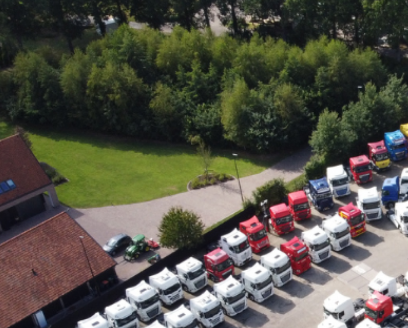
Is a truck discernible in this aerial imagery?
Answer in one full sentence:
Yes, the frame does contain a truck.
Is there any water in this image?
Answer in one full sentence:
No, no water is visible.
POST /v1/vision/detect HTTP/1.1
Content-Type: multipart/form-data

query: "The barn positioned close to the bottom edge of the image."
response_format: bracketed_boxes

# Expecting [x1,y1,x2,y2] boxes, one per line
[0,209,124,328]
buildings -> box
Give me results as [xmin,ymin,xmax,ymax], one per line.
[0,209,124,328]
[0,133,57,225]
